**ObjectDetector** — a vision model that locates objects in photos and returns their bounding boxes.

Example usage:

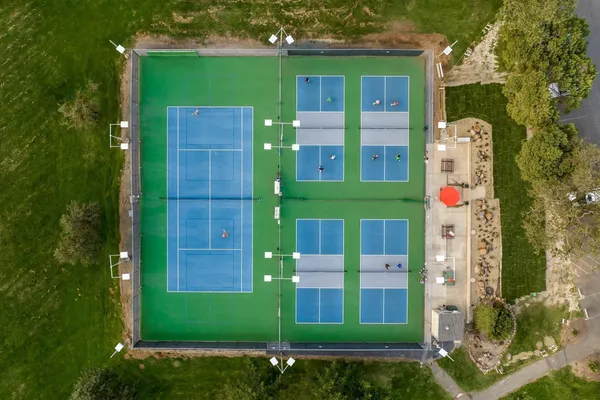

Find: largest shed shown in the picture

[432,309,468,343]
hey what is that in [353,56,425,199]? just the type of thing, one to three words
sports court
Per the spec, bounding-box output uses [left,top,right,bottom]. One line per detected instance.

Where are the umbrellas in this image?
[439,186,459,206]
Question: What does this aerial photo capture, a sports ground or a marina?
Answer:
sports ground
